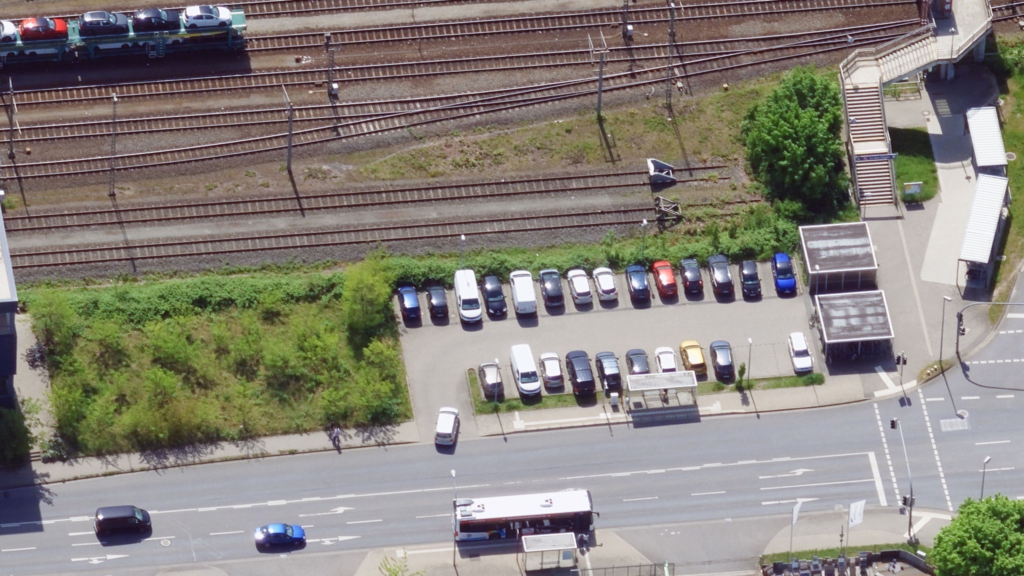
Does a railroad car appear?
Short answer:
Yes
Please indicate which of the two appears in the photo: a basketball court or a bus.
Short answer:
bus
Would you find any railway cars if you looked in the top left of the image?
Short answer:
Yes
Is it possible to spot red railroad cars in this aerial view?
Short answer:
No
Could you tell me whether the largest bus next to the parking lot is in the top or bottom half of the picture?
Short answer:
bottom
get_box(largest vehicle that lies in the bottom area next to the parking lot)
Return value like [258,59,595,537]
[452,489,604,541]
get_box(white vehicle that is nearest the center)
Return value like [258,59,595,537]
[509,274,537,316]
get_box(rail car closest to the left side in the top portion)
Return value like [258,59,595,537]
[0,16,81,69]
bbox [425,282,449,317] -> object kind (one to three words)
car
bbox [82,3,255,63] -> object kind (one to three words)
rail car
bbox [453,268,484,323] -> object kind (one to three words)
vehicle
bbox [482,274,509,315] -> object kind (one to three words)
car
